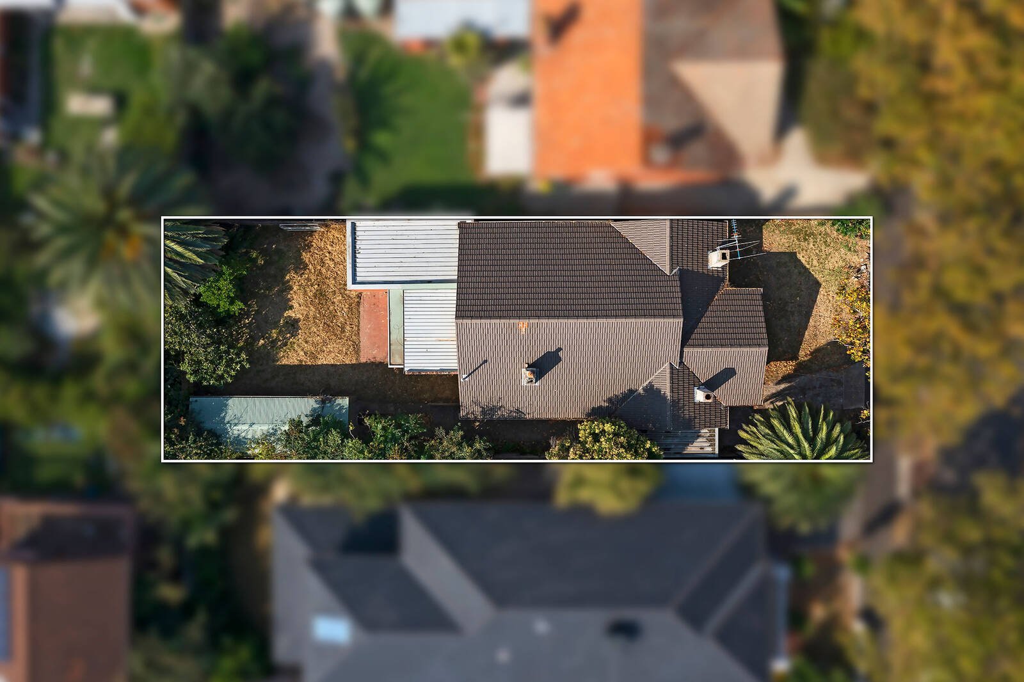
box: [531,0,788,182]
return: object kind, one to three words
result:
house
